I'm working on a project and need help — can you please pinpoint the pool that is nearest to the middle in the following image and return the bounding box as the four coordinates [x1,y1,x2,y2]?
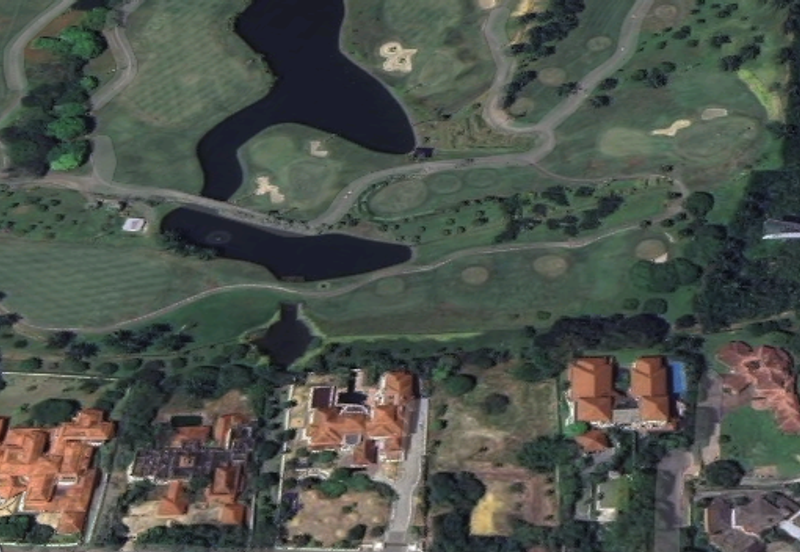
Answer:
[338,375,370,404]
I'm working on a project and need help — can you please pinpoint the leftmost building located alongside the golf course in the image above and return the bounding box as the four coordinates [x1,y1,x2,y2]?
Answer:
[0,408,114,535]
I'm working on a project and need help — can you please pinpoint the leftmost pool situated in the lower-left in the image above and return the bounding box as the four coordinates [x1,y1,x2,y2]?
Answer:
[168,413,205,428]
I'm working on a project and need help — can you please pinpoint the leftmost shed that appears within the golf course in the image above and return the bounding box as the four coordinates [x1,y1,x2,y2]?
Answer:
[123,219,149,237]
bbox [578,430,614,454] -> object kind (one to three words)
building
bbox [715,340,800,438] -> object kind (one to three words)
house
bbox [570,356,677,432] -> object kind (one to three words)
house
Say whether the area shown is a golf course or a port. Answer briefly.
golf course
